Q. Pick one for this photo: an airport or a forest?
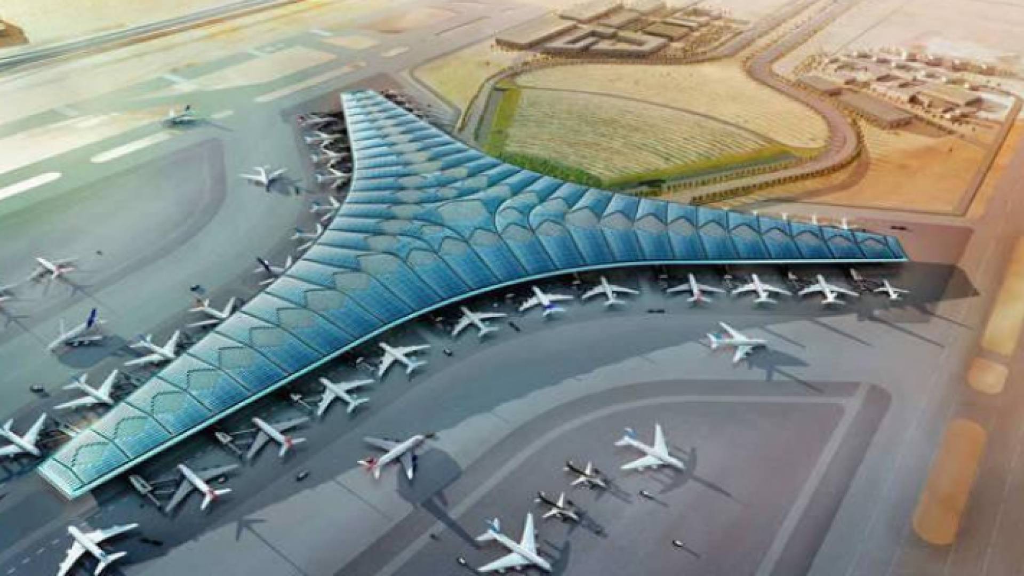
airport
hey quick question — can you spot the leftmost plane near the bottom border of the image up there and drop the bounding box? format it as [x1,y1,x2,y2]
[60,524,134,576]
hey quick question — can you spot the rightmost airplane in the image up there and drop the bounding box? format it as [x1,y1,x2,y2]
[878,282,905,298]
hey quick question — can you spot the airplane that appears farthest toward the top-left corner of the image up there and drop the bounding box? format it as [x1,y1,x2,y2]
[163,106,195,125]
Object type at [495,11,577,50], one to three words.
shed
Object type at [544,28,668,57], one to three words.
building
